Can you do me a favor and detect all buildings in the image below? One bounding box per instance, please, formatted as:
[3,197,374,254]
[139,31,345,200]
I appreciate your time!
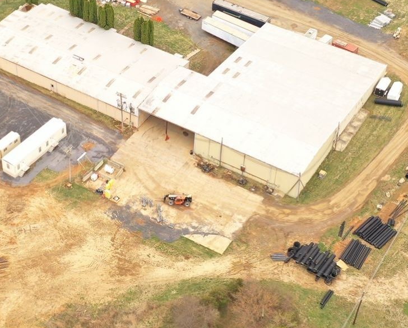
[0,0,203,126]
[191,21,390,197]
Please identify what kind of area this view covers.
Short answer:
industrial area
